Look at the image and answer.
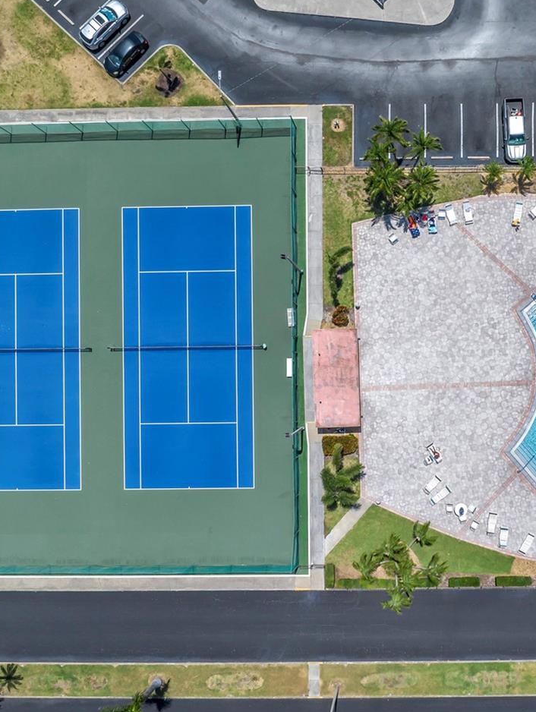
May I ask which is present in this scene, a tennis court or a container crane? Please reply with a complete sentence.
This aerial view contains a tennis court.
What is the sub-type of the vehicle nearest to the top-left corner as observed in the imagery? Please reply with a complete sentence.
It turns out the vehicle nearest to the top-left corner is an automobile.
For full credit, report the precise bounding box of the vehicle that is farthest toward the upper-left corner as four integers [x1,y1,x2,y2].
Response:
[76,1,129,51]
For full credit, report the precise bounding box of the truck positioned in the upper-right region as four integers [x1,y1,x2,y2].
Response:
[500,95,530,164]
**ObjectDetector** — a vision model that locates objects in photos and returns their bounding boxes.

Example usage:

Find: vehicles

[500,95,530,164]
[76,1,129,51]
[101,28,153,80]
